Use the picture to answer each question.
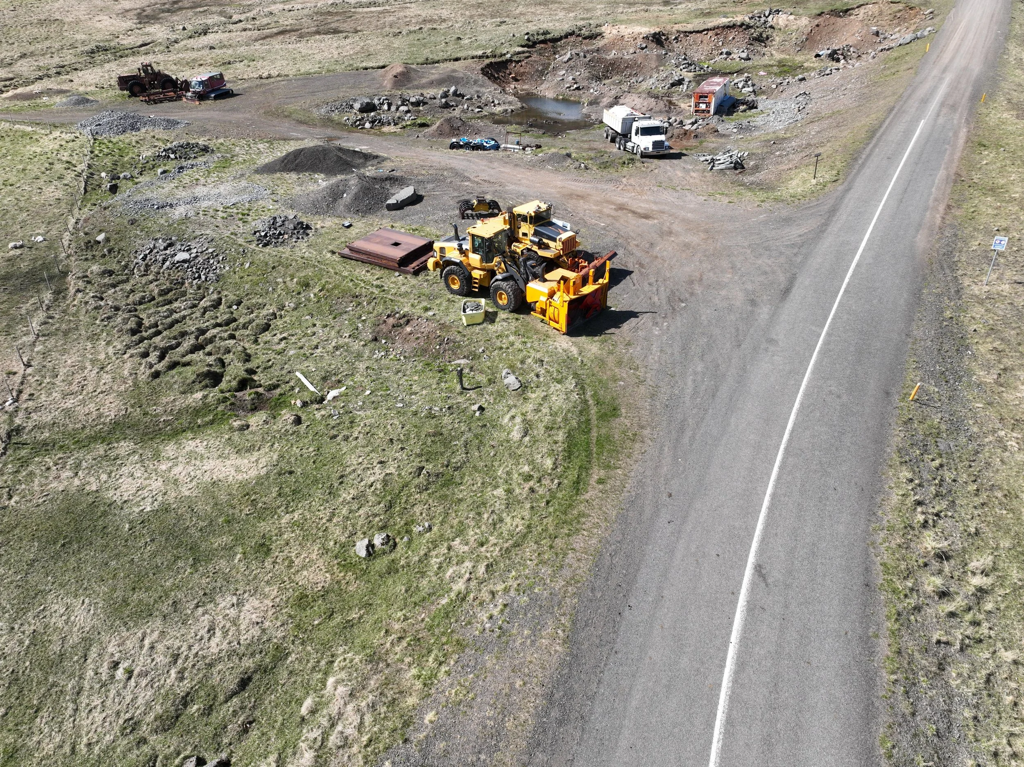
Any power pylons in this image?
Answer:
No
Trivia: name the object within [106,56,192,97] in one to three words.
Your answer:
work vehicle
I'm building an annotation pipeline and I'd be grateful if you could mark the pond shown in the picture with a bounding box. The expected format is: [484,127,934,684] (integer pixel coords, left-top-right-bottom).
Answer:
[492,90,592,139]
